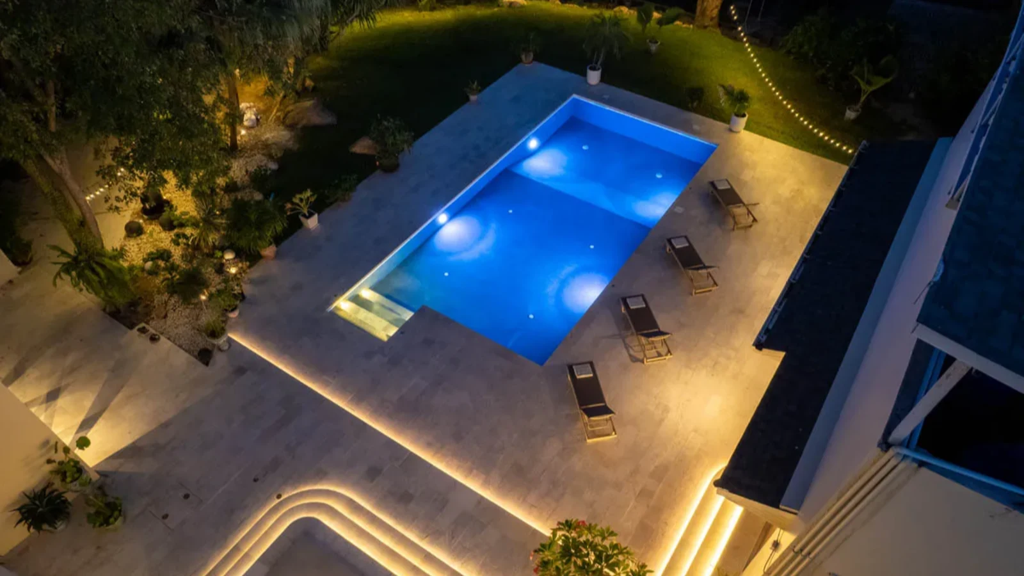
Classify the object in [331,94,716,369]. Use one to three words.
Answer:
swimming pool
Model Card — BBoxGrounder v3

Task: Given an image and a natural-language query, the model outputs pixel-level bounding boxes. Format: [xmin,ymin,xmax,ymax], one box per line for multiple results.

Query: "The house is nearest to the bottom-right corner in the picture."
[715,2,1024,576]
